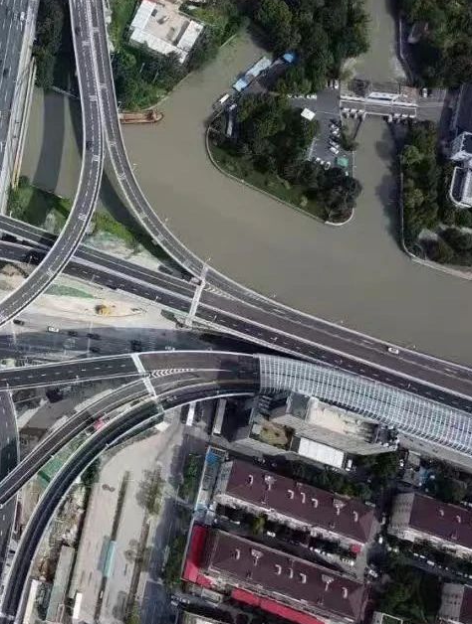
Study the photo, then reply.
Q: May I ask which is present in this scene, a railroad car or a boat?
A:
boat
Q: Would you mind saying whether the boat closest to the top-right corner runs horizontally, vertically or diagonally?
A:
diagonally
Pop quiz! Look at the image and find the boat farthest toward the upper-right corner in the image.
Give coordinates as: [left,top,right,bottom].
[242,51,274,79]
